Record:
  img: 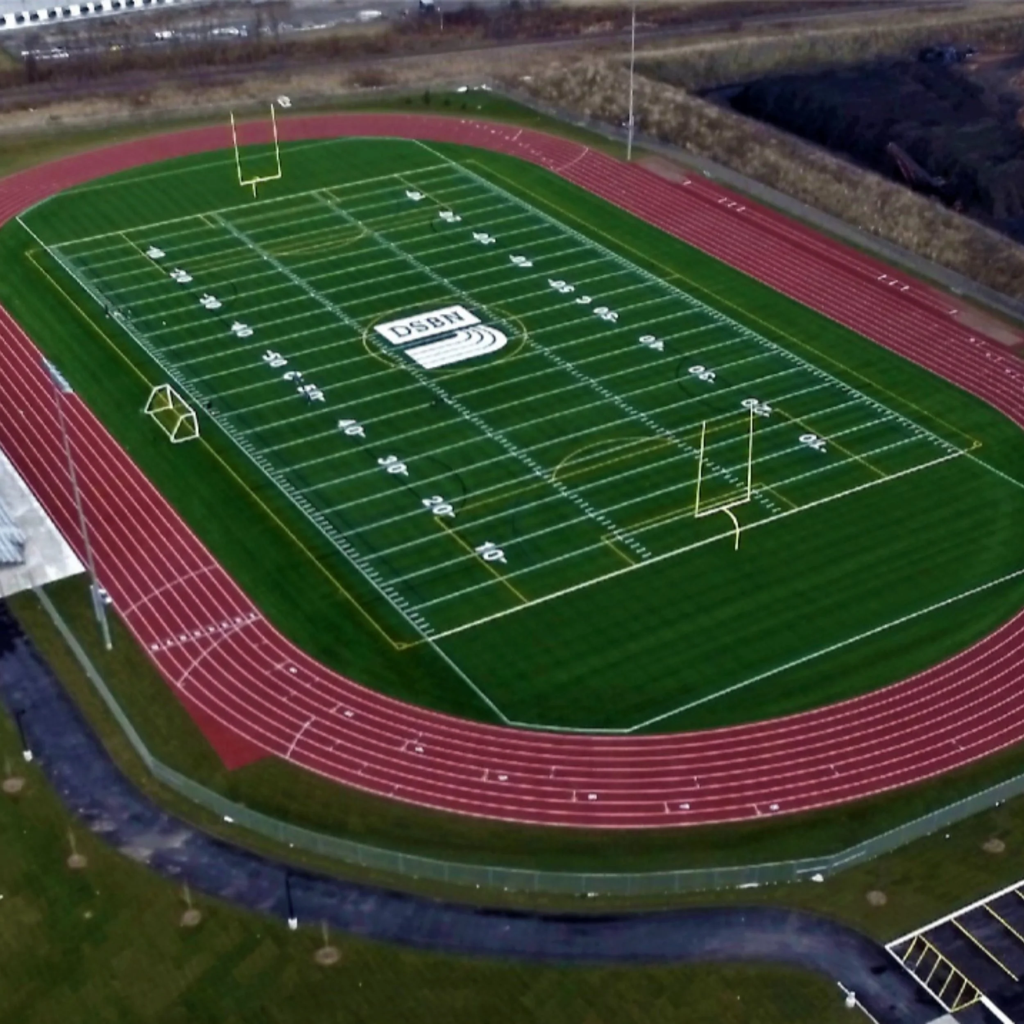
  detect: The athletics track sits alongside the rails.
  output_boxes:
[0,116,1024,825]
